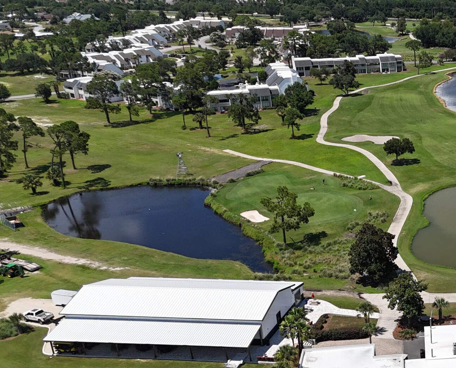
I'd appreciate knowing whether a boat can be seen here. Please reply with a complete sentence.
No, there isn't any boat down there.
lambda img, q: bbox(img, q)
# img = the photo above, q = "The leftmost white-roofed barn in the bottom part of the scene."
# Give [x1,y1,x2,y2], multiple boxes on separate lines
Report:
[43,278,306,366]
